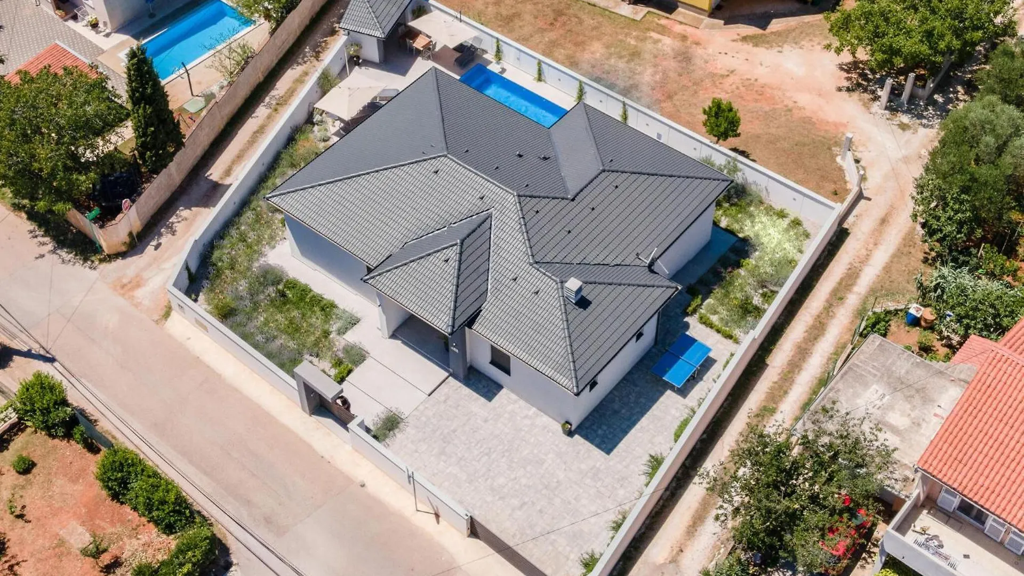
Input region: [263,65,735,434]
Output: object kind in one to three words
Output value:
house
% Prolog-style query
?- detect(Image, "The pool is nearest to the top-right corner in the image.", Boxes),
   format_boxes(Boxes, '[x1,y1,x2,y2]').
[459,64,568,127]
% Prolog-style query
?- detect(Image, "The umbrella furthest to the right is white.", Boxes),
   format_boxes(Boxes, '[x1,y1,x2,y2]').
[407,2,477,52]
